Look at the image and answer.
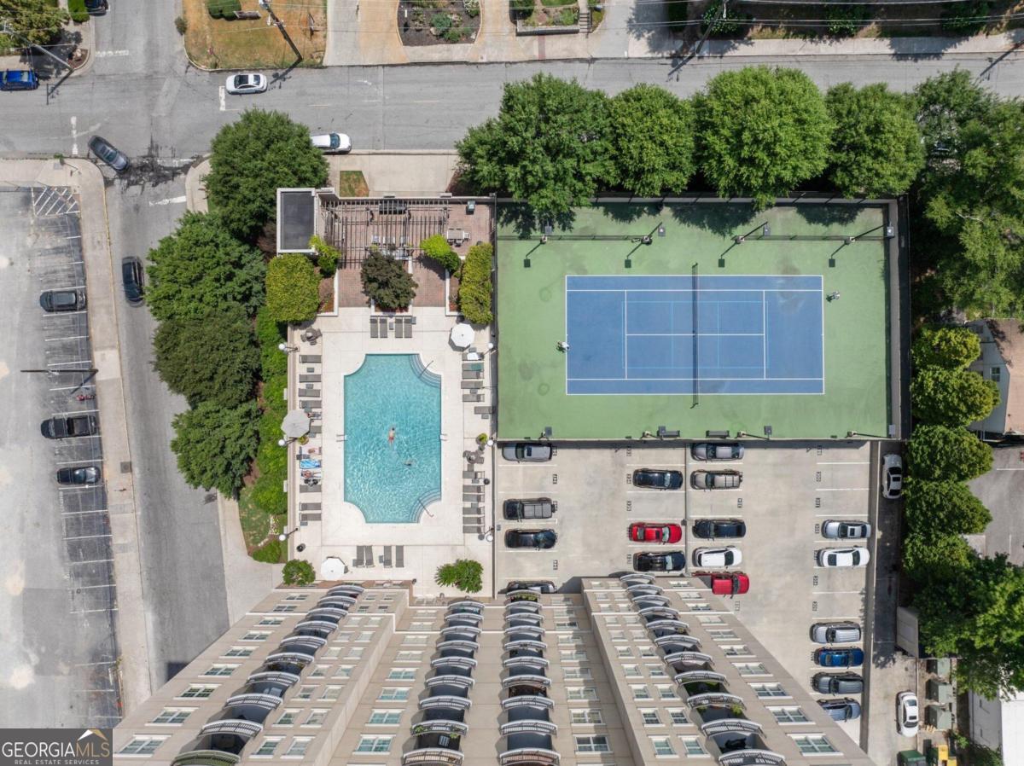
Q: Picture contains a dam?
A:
No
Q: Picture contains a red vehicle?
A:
Yes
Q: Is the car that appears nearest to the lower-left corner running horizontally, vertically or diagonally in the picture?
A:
horizontally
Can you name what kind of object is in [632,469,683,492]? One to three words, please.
car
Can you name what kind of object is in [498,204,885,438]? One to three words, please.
tennis court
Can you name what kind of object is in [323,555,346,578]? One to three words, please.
umbrella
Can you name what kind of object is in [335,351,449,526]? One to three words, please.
swimming pool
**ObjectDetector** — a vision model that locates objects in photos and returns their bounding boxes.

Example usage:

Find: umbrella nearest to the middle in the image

[452,324,474,347]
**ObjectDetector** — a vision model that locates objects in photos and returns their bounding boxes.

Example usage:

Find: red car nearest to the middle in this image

[629,523,681,546]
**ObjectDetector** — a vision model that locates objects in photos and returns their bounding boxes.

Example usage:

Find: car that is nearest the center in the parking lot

[502,442,553,466]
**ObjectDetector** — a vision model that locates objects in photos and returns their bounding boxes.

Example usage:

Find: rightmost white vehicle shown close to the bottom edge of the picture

[896,690,922,736]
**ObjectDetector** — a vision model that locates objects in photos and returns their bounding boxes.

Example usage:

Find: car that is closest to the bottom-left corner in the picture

[57,466,103,486]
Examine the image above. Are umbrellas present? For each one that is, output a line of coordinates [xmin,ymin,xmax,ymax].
[283,410,311,438]
[323,555,346,578]
[452,324,474,347]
